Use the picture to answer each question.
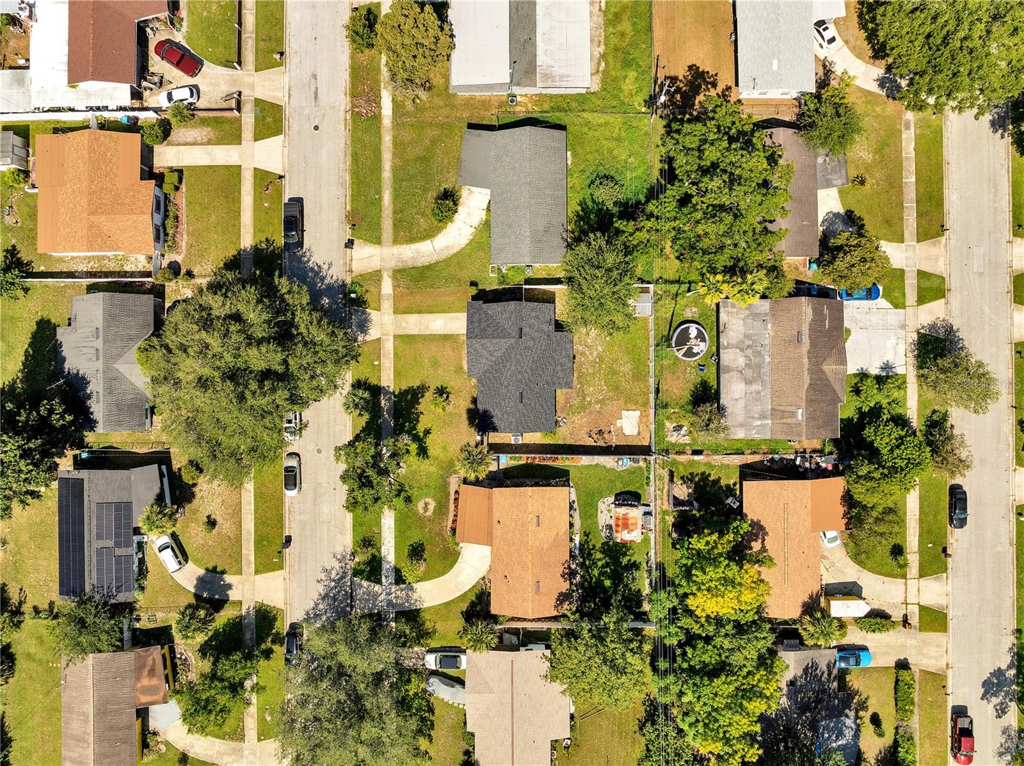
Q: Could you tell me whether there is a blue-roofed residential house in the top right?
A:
No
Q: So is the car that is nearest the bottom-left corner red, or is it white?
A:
white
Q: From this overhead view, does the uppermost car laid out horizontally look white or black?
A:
white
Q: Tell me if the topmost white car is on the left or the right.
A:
right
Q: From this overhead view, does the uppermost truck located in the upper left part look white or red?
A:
red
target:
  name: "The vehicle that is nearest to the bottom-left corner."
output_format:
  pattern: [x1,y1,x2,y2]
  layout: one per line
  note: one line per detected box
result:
[153,530,190,575]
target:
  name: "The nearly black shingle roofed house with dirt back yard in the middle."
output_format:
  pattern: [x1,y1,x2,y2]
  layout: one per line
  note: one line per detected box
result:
[467,302,574,434]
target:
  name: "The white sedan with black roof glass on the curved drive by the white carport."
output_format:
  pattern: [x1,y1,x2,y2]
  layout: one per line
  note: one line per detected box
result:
[815,18,841,59]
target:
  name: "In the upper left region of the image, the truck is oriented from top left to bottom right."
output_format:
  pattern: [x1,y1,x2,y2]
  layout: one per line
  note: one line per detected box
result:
[154,39,209,82]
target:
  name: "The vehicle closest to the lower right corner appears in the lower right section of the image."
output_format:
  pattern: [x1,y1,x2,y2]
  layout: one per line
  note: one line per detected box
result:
[948,713,975,765]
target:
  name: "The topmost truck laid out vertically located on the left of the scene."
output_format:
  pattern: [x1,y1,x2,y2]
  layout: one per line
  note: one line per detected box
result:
[281,202,304,252]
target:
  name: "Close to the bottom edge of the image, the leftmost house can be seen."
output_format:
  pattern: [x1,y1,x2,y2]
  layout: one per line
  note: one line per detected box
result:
[62,618,174,766]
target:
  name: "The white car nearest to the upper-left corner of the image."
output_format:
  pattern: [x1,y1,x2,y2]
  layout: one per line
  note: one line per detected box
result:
[159,85,202,106]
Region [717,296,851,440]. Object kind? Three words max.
house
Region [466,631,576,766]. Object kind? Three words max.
house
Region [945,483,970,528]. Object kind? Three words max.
car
